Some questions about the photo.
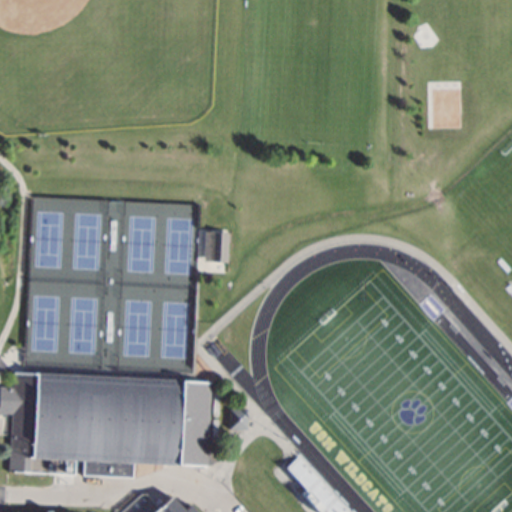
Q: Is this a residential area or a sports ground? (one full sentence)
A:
The picture captures a sports ground.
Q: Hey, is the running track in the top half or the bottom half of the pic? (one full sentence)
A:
It is in the bottom half that the running track appears.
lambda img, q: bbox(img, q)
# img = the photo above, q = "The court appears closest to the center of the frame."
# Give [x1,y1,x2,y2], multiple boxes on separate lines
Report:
[164,218,193,275]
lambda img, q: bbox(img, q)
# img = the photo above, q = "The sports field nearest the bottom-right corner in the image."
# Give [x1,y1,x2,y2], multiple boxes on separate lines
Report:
[267,260,512,512]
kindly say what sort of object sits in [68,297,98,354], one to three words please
tennis court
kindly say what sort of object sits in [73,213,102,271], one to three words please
tennis court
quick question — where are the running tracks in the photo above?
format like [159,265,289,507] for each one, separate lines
[249,245,512,512]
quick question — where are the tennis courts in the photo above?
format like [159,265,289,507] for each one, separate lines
[73,213,102,271]
[122,300,152,358]
[68,297,98,354]
[126,216,156,274]
[160,301,190,359]
[35,212,64,270]
[30,296,60,353]
[164,218,193,275]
